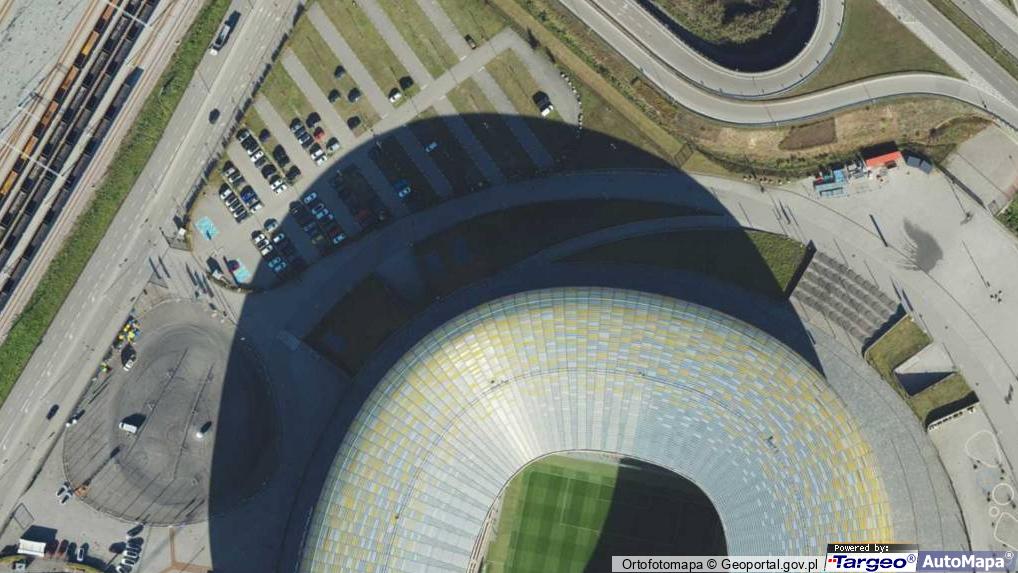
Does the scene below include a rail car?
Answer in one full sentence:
Yes, I can see a rail car in this picture.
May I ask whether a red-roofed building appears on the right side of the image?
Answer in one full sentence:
Yes, I can see a red-roofed building on the right side of the image.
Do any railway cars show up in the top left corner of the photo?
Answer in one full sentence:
Yes, a railway car appears in the top left corner of the photo.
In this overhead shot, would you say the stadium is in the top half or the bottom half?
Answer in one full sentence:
You can find the stadium in the bottom half.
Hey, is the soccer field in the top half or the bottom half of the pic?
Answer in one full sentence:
Seen from above, the soccer field lies in the bottom half of the view.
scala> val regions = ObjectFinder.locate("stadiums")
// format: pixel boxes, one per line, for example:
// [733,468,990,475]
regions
[296,284,896,573]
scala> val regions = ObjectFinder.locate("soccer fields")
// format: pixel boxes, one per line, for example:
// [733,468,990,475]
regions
[487,461,730,573]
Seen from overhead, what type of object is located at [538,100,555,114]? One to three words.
vehicle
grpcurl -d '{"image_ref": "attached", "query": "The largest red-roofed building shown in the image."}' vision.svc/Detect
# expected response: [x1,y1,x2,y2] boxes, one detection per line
[867,150,903,168]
